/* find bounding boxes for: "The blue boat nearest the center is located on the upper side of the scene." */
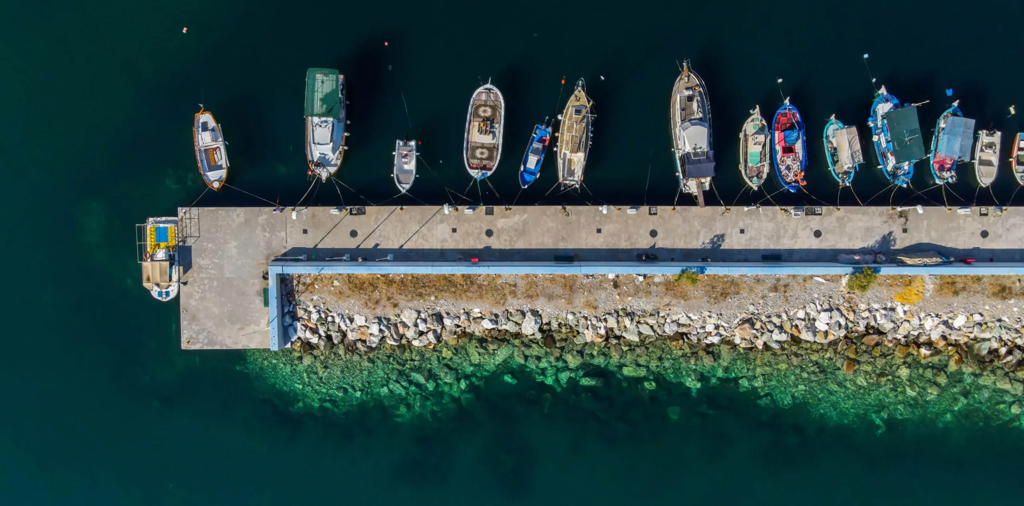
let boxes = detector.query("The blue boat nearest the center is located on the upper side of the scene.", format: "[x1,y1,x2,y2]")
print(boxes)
[520,116,553,189]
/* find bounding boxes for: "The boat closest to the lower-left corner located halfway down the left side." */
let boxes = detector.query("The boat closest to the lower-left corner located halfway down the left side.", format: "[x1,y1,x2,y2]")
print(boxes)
[136,217,180,301]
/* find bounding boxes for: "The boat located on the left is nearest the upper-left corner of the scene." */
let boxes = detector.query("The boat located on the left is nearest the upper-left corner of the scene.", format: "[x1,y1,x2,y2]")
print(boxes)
[193,104,229,191]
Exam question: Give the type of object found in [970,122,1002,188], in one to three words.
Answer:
boat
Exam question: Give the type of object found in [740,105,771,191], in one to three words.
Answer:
boat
